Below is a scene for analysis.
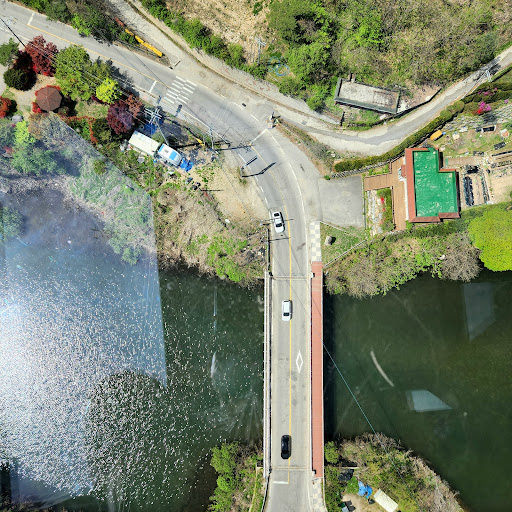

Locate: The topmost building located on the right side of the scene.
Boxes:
[336,77,400,114]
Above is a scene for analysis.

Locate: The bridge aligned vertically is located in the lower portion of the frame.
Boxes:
[263,262,326,478]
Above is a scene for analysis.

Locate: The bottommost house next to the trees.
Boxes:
[396,148,458,224]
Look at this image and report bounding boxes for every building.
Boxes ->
[396,148,458,224]
[336,77,400,114]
